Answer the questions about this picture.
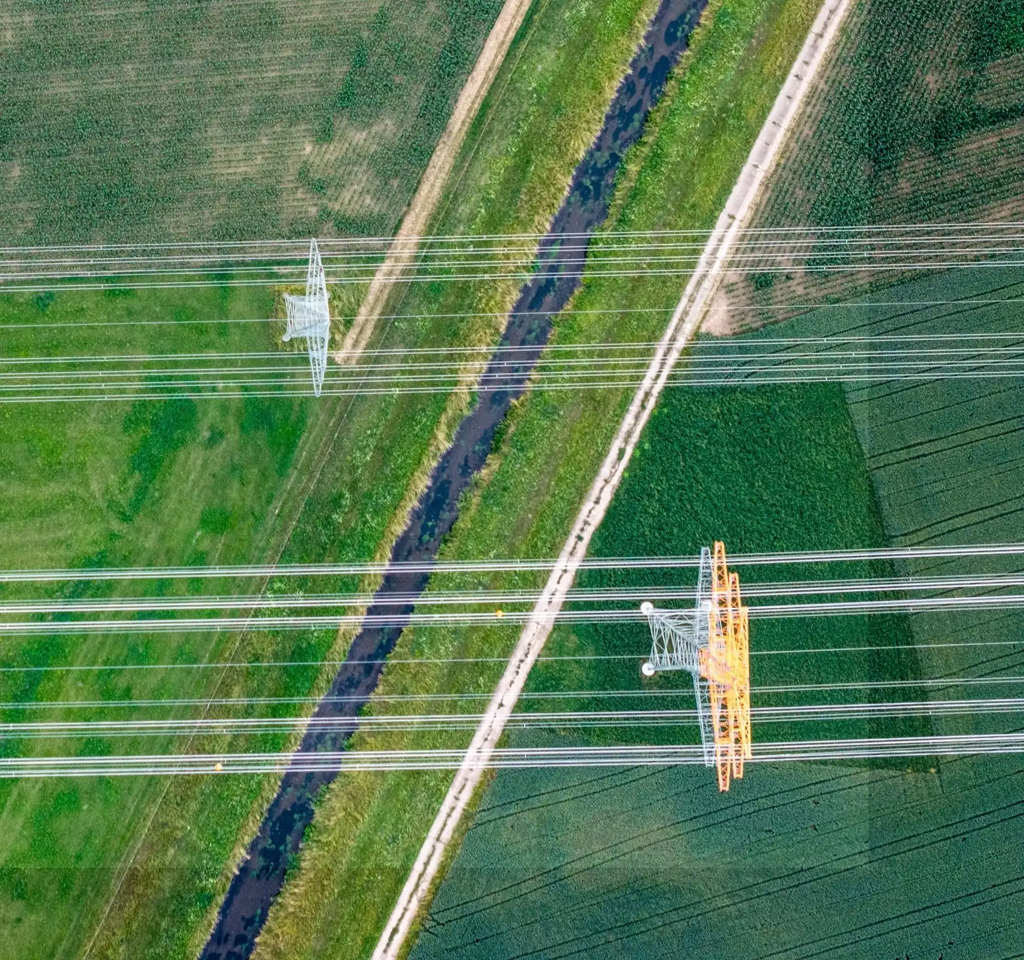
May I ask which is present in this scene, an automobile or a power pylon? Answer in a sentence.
The image shows a power pylon.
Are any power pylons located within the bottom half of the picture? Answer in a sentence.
Yes, there is a power pylon within the bottom half of the picture.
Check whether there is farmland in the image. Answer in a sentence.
Yes, the picture does contain farmland.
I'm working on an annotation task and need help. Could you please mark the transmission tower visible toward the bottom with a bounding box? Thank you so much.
[641,540,754,792]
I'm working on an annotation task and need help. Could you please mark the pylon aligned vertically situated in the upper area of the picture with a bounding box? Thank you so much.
[281,238,334,397]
